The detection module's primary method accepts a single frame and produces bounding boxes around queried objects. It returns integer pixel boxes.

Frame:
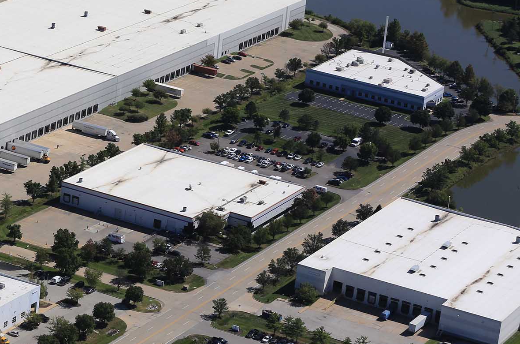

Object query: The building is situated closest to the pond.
[294,196,520,344]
